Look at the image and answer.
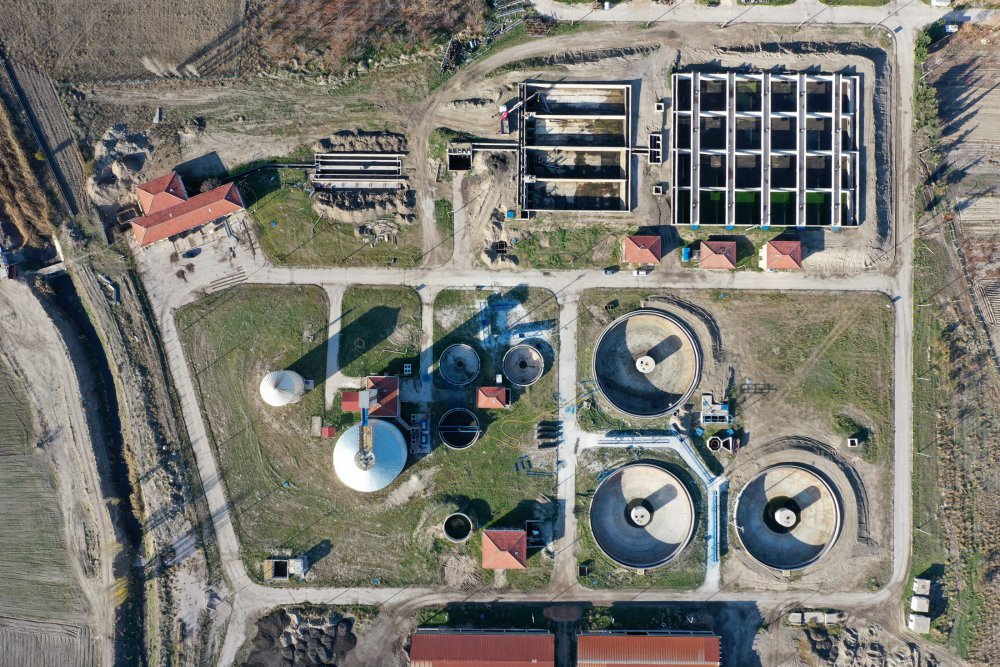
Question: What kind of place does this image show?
industrial area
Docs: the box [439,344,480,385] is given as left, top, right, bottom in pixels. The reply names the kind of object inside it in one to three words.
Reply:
storage tank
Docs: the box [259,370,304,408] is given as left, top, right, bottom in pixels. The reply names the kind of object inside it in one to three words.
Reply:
silo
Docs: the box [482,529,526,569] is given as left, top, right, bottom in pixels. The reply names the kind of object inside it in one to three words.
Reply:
building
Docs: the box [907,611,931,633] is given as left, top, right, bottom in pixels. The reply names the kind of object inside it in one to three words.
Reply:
building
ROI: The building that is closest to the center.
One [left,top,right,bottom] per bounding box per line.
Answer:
[478,387,506,408]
